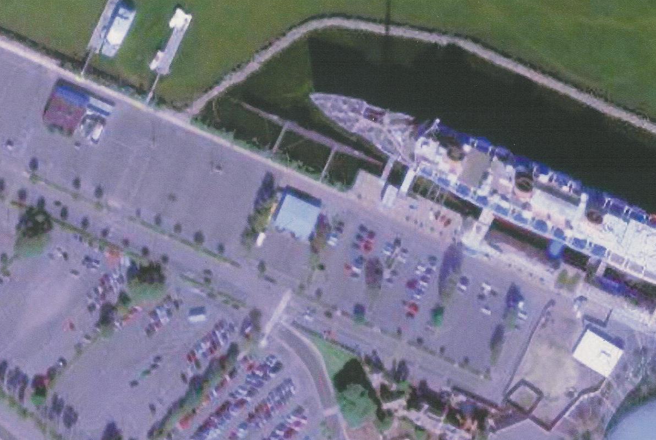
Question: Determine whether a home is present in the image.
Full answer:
Yes, a home can be made out from above.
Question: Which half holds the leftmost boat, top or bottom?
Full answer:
Seen from above, the leftmost boat lies in the top half of the view.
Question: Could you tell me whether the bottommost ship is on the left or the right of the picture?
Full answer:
The bottommost ship sits on the right side.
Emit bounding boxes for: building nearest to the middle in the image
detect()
[275,193,320,237]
